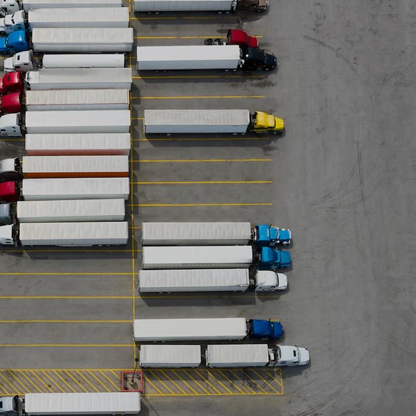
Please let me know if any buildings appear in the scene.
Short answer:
No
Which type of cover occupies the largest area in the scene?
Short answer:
paved ground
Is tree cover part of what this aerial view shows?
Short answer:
No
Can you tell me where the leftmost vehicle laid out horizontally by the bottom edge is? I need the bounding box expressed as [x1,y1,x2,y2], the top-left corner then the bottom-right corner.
[0,392,141,416]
